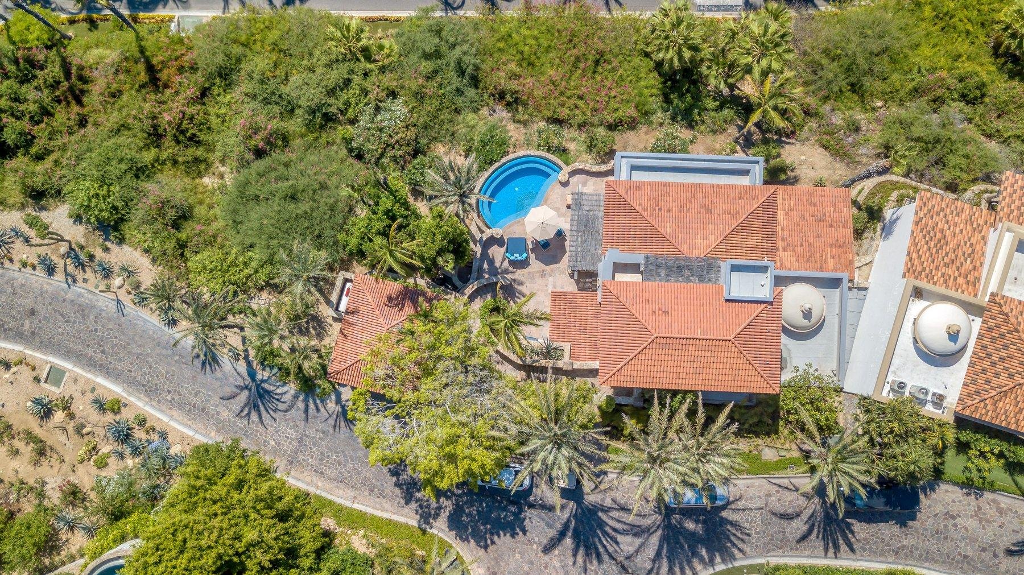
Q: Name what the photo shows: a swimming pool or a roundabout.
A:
swimming pool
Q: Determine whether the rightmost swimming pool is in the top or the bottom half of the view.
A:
top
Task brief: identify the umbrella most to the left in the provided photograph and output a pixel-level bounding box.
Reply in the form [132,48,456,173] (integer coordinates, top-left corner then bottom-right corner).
[525,205,560,241]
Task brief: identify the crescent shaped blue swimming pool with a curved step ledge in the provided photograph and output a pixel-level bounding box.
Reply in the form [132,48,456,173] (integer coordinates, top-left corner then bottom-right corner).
[481,157,562,229]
